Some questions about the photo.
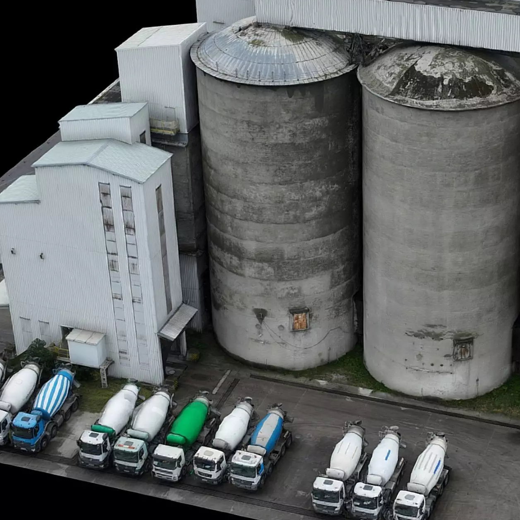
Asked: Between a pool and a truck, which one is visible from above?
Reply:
truck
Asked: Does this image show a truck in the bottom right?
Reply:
Yes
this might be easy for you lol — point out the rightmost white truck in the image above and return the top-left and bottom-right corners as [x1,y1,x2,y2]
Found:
[392,435,450,520]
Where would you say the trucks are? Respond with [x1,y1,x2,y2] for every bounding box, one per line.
[231,398,292,491]
[193,394,259,487]
[11,366,82,454]
[0,361,46,449]
[152,391,216,483]
[350,426,406,520]
[392,435,450,520]
[113,387,178,478]
[310,421,369,517]
[76,380,145,471]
